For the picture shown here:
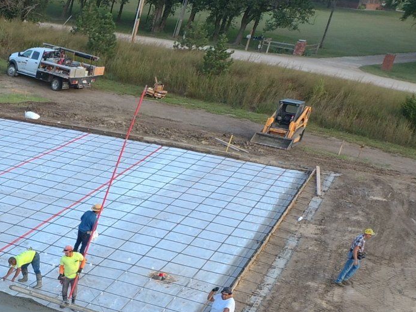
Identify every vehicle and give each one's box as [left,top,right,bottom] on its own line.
[18,49,105,91]
[252,95,325,150]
